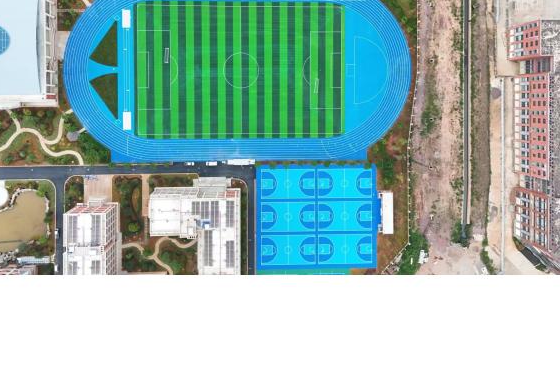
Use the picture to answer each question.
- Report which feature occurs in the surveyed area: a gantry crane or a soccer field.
soccer field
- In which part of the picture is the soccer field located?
top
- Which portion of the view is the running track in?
top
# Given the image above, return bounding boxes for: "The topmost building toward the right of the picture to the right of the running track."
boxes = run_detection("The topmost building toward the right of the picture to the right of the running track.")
[509,20,560,64]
